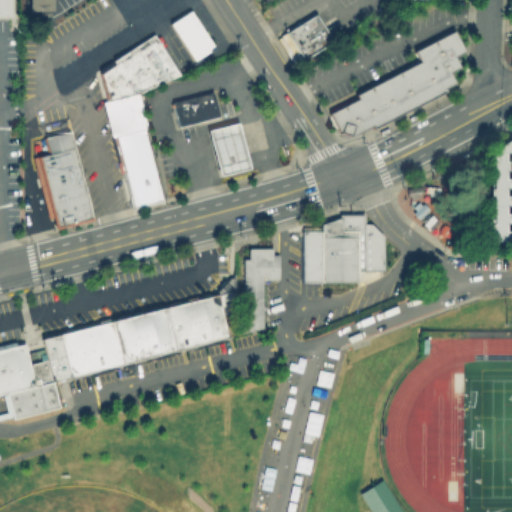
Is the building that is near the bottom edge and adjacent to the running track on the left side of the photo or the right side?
right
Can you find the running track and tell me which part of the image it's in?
bottom right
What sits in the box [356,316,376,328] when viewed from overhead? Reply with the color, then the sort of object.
white vehicle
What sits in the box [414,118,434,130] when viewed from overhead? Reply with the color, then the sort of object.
white vehicle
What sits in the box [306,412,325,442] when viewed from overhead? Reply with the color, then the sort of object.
white tent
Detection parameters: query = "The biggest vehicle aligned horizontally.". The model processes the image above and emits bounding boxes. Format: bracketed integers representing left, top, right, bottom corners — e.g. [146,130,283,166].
[130,245,160,258]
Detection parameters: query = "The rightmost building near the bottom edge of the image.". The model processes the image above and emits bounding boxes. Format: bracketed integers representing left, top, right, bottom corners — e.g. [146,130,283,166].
[362,480,404,512]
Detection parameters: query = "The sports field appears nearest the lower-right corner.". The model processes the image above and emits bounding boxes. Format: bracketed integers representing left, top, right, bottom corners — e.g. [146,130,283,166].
[465,362,512,512]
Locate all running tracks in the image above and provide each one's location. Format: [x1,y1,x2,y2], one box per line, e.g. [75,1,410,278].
[386,339,512,512]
